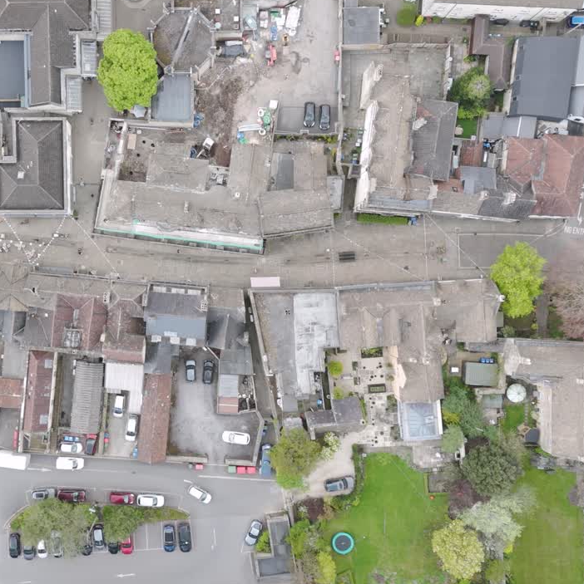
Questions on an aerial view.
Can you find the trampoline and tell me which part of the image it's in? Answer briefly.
bottom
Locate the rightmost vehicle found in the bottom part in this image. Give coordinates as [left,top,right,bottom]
[324,476,353,493]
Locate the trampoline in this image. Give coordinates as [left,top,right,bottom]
[331,532,353,555]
